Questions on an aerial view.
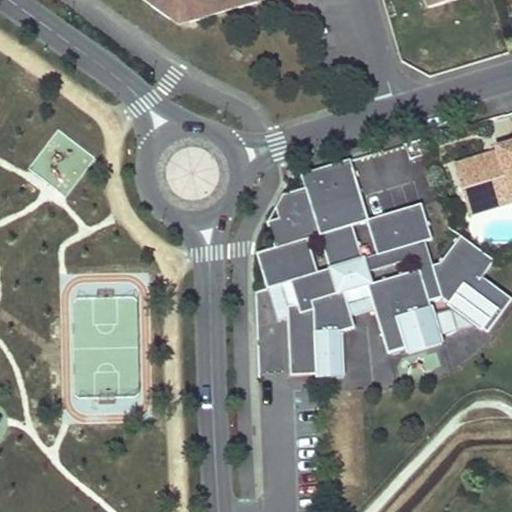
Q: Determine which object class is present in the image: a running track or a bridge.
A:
running track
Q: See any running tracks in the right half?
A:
No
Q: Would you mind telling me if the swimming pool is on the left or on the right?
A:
right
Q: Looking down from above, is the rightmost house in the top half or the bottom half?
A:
top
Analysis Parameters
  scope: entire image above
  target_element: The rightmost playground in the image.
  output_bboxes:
[397,353,441,383]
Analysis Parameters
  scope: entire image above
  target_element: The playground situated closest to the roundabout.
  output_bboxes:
[28,129,96,198]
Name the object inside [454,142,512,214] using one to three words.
house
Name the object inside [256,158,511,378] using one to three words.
building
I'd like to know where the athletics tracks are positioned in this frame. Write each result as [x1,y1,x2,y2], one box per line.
[60,273,152,424]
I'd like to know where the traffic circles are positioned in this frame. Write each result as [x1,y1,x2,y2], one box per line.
[136,110,256,244]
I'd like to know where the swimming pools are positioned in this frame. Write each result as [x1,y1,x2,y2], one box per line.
[468,204,512,242]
